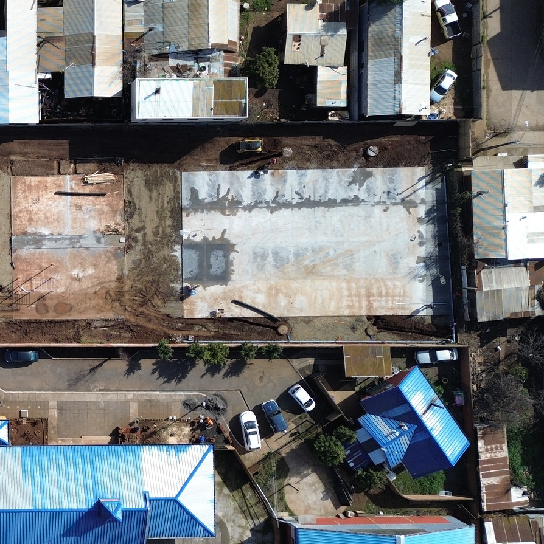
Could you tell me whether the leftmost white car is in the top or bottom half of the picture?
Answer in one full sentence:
The leftmost white car is in the bottom half of the image.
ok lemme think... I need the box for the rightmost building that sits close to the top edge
[358,0,439,119]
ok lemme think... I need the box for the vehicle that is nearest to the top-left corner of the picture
[235,137,266,154]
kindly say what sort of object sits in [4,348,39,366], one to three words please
car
